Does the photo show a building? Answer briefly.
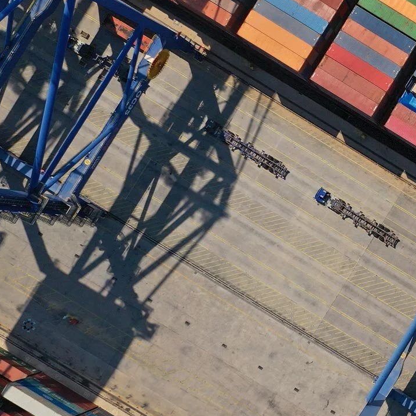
No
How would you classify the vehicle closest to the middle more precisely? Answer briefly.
truck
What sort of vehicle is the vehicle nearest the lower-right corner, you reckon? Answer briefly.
truck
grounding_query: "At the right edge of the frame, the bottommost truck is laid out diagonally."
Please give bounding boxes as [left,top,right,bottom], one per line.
[311,185,399,249]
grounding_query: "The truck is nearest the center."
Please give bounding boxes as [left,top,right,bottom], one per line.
[199,116,288,180]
